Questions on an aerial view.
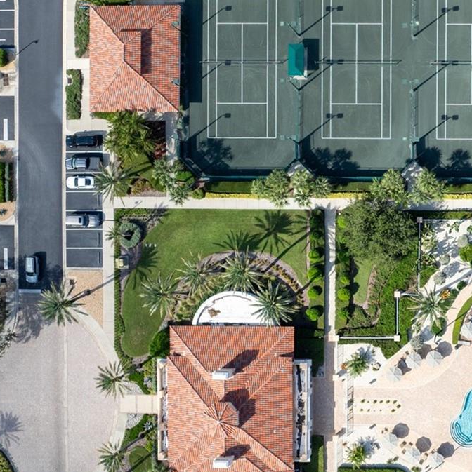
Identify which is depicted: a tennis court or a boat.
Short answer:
tennis court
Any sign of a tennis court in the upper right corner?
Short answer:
Yes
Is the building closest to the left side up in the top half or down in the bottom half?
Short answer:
top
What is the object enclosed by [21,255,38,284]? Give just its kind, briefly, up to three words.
car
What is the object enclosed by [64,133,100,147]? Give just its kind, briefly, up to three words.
vehicle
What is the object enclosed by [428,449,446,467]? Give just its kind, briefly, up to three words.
umbrella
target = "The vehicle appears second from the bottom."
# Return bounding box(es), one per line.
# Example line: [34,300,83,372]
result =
[66,214,98,228]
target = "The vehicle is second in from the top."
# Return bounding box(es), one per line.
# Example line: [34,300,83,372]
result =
[64,155,101,170]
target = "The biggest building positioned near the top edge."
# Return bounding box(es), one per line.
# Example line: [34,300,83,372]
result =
[89,4,181,112]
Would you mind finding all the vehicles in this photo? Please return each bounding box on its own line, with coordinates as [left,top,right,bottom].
[66,214,98,228]
[64,176,93,189]
[21,255,38,284]
[64,155,101,170]
[64,133,100,147]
